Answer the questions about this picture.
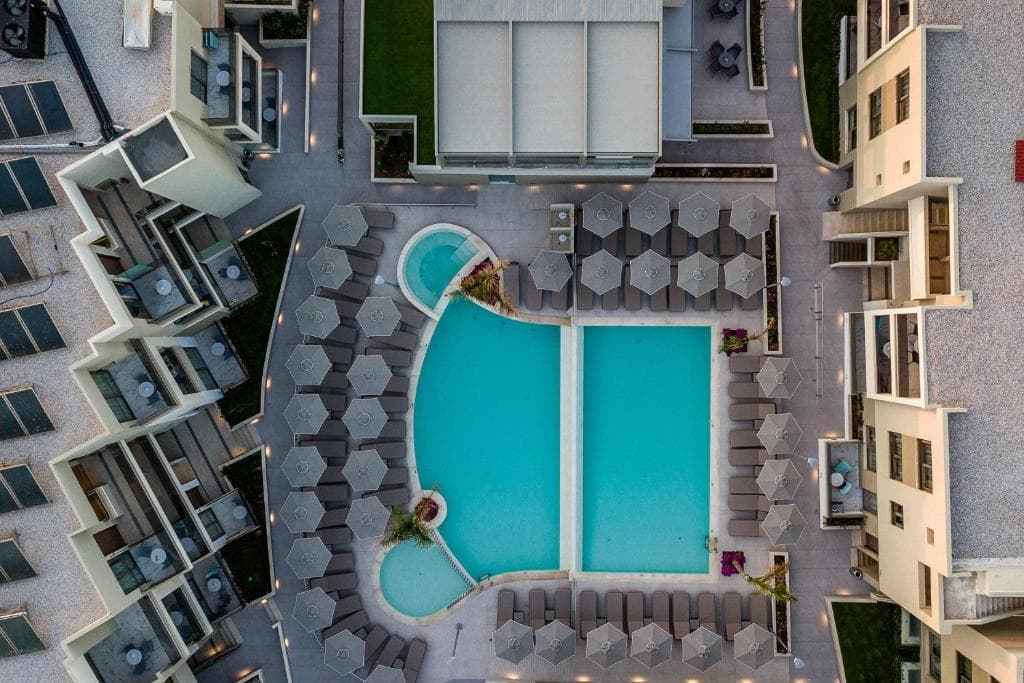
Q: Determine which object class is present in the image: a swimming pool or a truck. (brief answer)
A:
swimming pool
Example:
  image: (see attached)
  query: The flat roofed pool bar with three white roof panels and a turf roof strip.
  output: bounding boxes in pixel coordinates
[363,0,664,184]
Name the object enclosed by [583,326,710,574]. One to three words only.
swimming pool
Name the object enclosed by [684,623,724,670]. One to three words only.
umbrella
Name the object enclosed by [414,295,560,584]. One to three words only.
swimming pool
